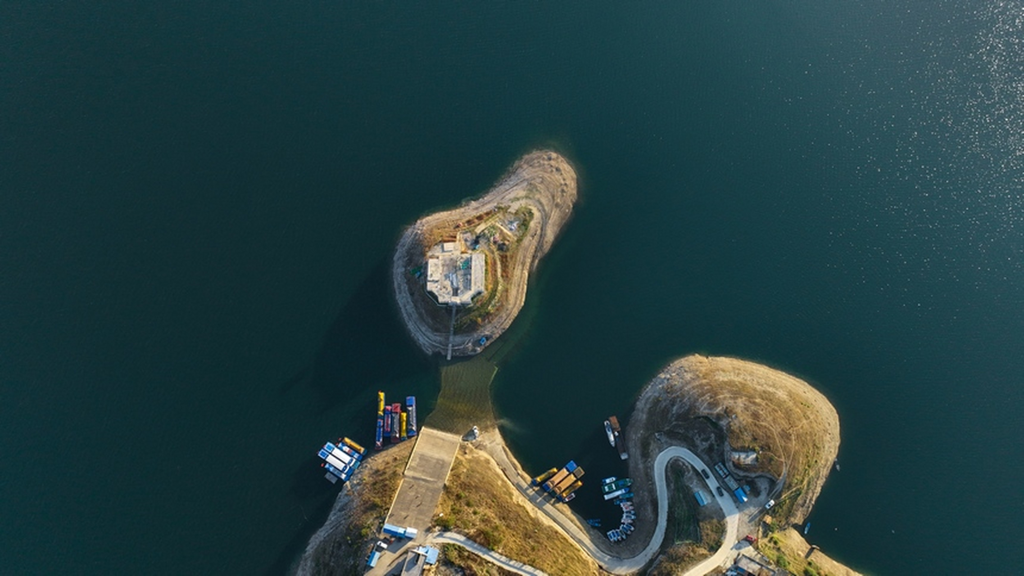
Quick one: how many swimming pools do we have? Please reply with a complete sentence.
No swimming pools are visible.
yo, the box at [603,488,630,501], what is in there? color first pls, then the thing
blue boat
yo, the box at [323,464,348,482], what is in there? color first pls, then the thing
blue boat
